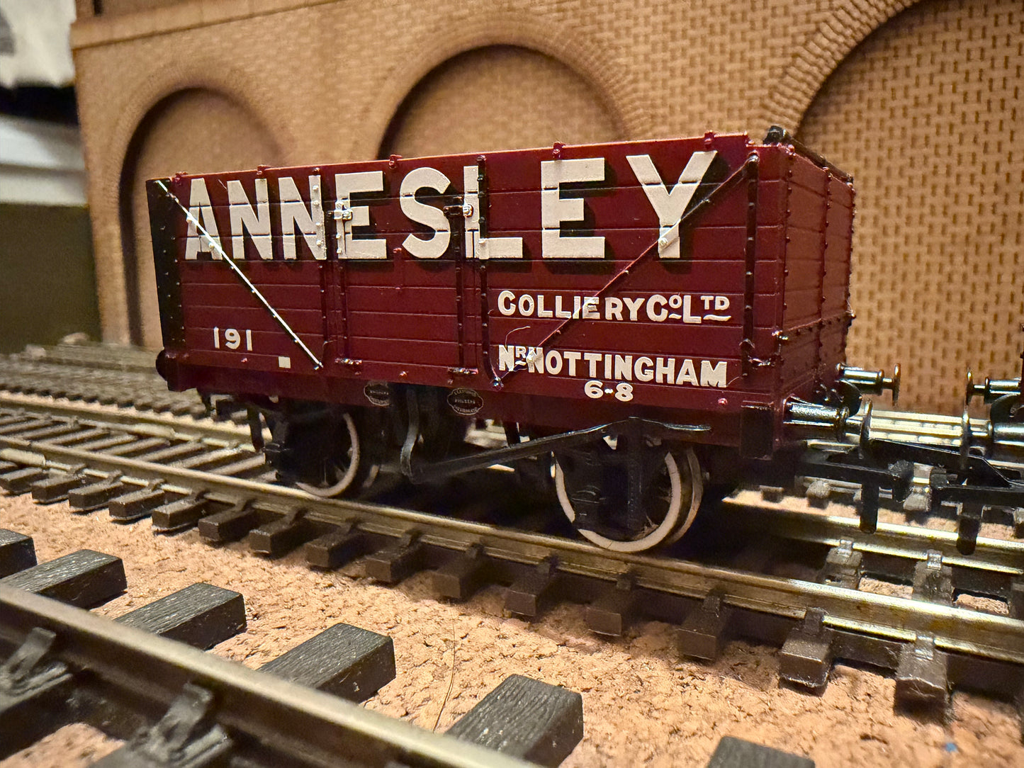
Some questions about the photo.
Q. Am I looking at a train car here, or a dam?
train car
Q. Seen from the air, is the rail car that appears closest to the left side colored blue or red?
red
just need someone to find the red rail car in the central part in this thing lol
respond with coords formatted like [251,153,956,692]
[146,125,912,551]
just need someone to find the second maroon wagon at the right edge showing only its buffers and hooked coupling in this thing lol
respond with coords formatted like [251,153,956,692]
[873,294,1024,549]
